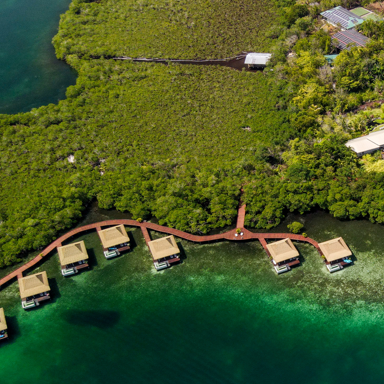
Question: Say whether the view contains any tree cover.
Yes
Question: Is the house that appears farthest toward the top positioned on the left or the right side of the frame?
right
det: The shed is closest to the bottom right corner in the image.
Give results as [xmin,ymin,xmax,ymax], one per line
[318,238,354,270]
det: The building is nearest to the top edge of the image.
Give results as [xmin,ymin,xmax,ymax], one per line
[320,6,364,31]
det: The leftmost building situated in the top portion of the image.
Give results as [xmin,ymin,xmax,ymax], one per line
[244,53,272,70]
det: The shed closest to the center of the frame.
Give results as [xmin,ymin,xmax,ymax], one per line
[148,236,183,267]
